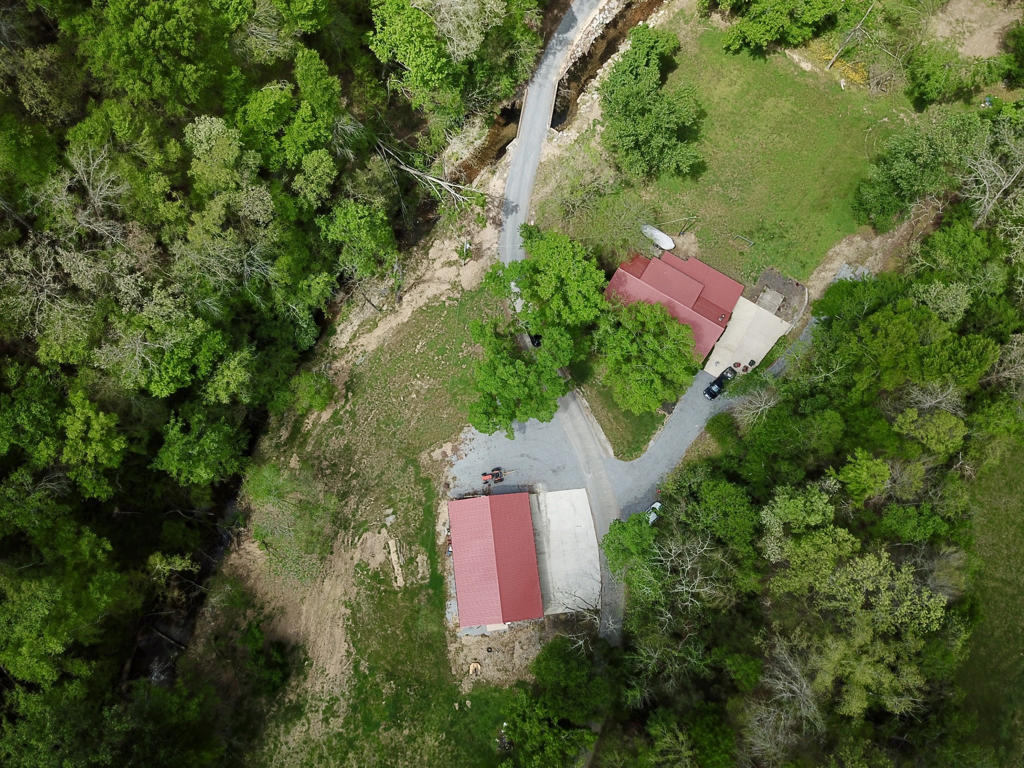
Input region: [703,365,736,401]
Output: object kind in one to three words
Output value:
truck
